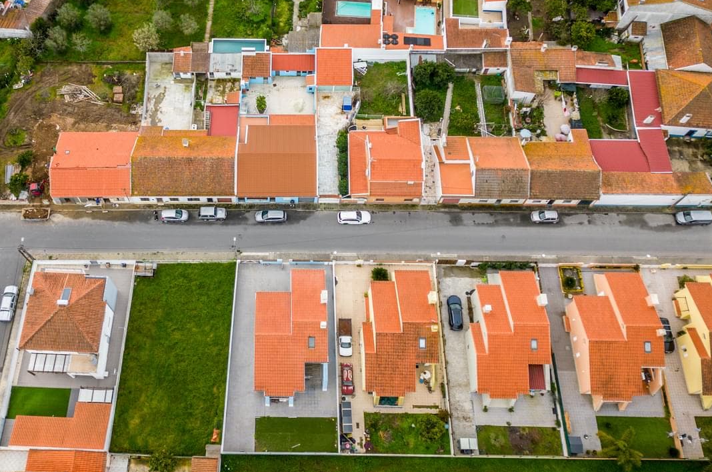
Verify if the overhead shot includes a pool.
Yes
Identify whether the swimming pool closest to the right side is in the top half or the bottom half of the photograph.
top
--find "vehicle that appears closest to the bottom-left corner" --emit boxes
[0,283,19,323]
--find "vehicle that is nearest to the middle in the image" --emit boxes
[338,208,371,226]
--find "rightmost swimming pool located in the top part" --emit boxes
[413,6,436,34]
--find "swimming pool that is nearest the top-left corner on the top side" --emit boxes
[210,39,268,53]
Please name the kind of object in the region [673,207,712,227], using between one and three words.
car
